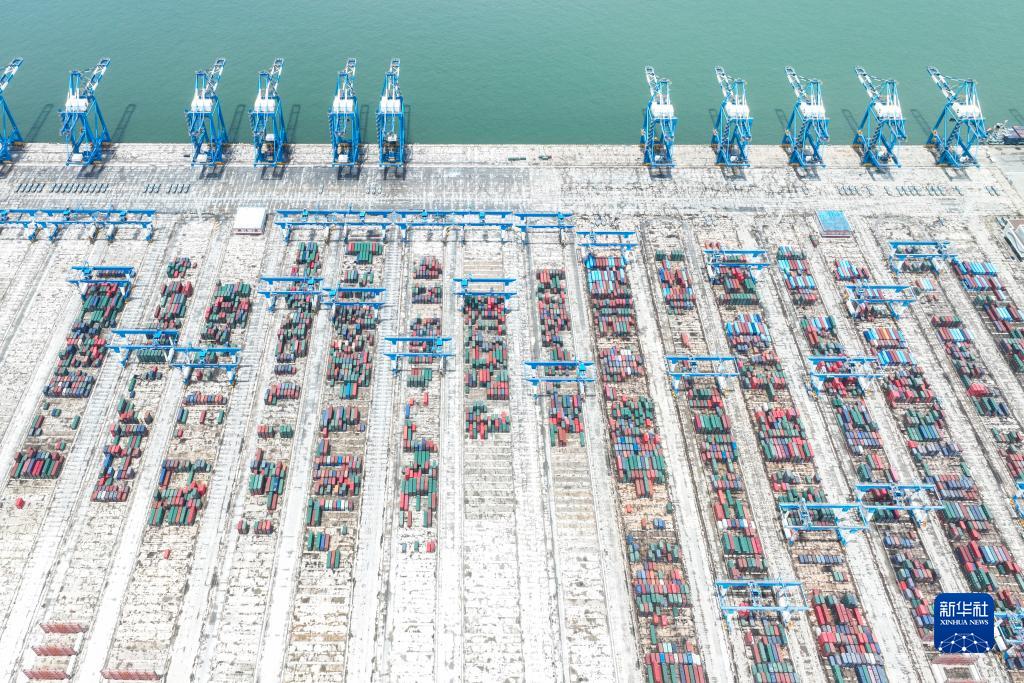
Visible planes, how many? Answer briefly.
0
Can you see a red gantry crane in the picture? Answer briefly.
No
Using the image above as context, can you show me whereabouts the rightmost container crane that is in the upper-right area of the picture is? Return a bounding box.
[928,66,991,167]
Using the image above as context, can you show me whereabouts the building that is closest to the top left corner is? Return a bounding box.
[231,208,270,235]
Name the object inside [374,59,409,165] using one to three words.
container crane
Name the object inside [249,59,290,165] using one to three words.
container crane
